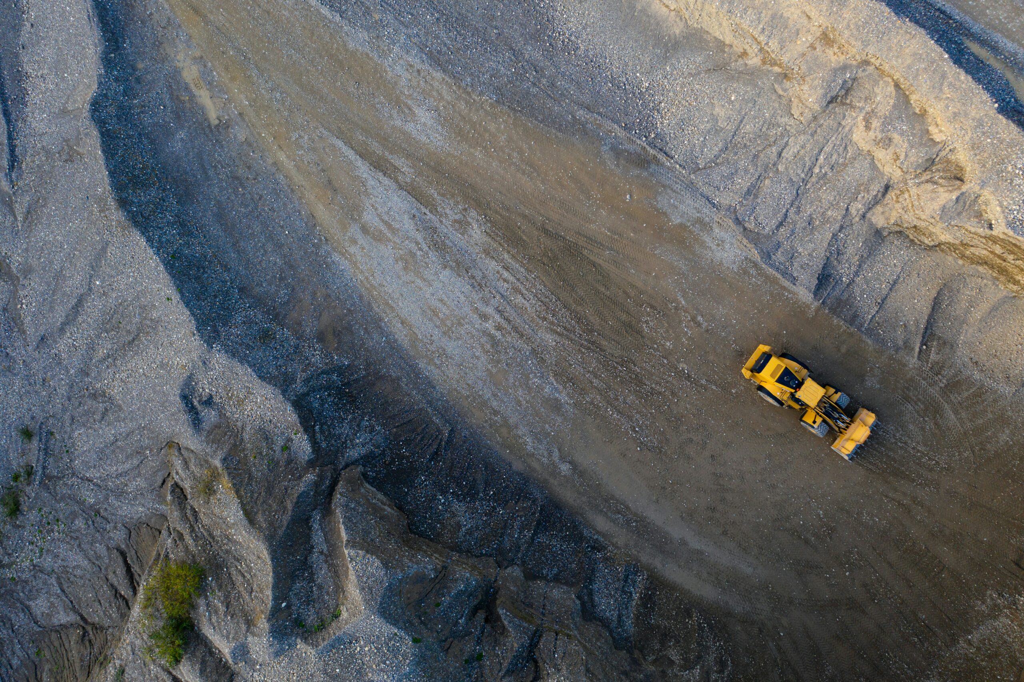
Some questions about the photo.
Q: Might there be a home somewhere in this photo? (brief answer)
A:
No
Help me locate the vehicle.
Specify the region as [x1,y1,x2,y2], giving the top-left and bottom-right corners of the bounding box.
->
[738,345,880,462]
